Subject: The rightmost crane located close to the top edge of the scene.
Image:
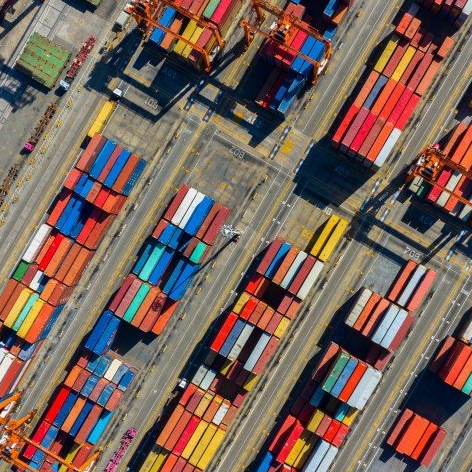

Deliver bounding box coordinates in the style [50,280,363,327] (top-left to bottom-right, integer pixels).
[239,0,334,91]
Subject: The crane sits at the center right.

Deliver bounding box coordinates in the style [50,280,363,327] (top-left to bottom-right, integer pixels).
[397,146,472,226]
